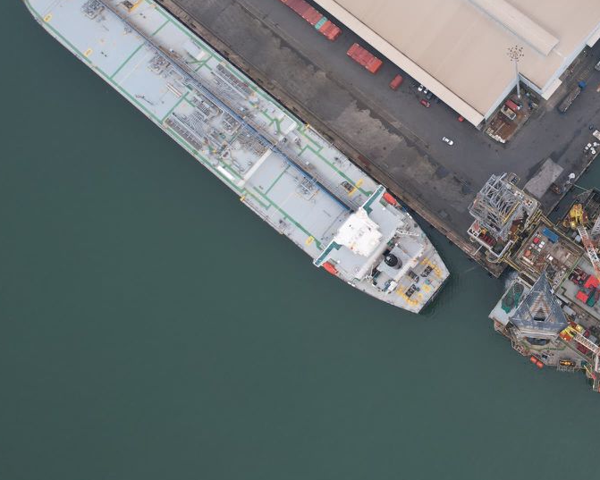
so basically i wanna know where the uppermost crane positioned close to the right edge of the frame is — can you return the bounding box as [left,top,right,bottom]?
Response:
[573,199,600,281]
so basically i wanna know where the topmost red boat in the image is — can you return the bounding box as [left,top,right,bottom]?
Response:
[382,190,400,210]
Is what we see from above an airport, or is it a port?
port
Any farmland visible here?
No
